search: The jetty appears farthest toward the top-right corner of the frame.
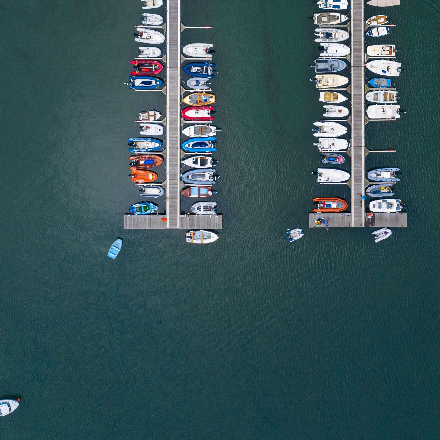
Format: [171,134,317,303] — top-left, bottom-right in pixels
[350,0,365,66]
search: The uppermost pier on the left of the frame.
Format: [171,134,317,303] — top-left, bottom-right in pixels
[166,0,180,67]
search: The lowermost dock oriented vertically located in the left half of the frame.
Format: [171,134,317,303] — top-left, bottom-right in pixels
[166,148,180,229]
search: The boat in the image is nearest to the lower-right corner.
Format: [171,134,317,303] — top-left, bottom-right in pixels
[373,228,392,242]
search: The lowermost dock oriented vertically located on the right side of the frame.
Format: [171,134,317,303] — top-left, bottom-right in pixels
[351,147,365,227]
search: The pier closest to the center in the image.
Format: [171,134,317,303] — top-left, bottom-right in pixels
[180,214,223,229]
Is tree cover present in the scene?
No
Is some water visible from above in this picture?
Yes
